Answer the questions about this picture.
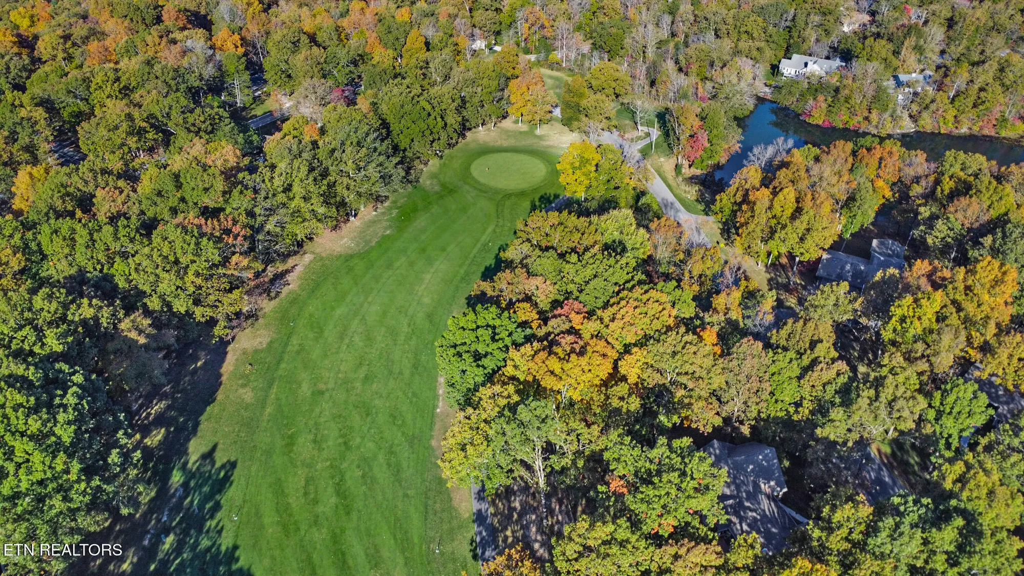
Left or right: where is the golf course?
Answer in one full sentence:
The golf course is on the left side of the image.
